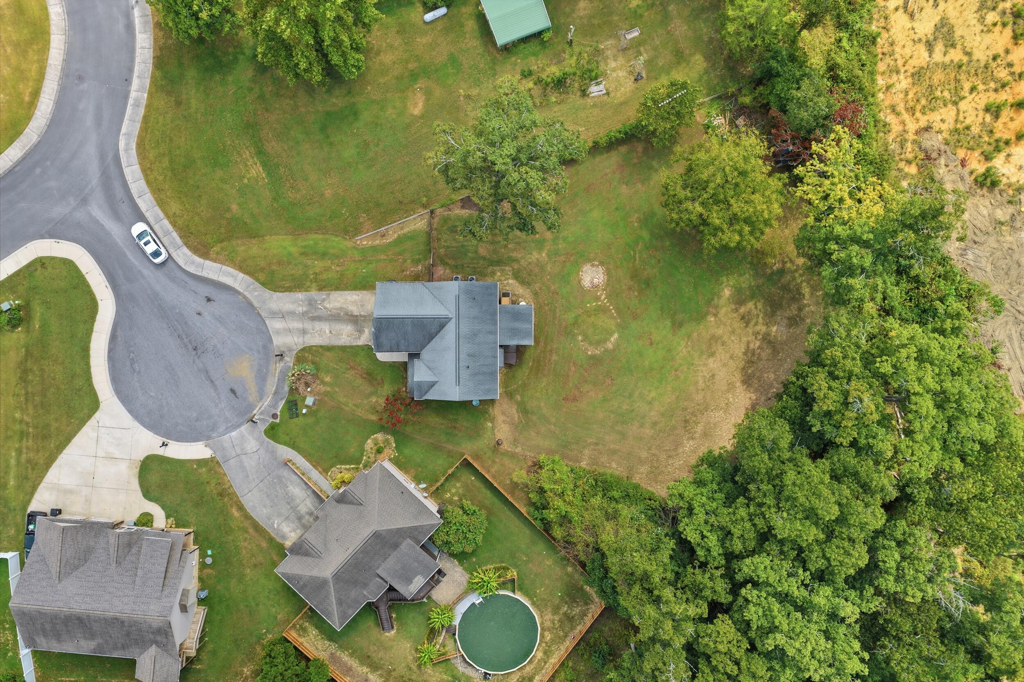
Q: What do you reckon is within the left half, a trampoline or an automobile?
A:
automobile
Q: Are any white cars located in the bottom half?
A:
No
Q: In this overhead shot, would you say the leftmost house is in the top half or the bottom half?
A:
bottom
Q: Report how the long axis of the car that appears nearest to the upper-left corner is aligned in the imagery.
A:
at an angle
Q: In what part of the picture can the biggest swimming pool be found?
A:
bottom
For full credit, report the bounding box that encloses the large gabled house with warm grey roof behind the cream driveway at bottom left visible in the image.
[9,514,216,682]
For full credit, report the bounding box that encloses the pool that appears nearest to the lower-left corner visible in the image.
[451,586,539,673]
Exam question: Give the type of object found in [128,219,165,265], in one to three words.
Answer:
car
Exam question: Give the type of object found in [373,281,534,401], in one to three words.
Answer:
house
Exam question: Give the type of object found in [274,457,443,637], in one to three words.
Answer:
house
